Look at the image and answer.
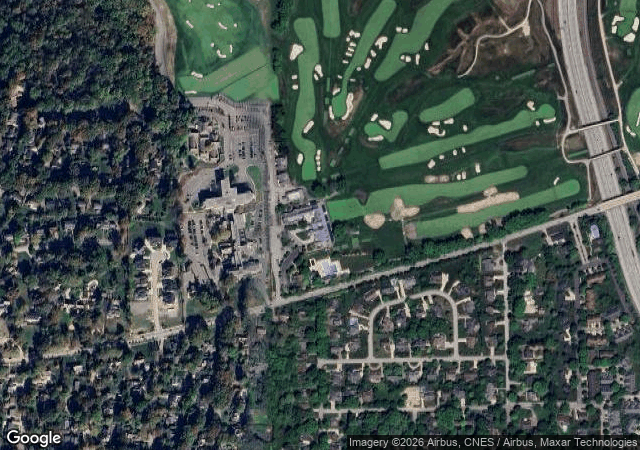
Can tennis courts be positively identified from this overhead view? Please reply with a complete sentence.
No, the photo shows no tennis court.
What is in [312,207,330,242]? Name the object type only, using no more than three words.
building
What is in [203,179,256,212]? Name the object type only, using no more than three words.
building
